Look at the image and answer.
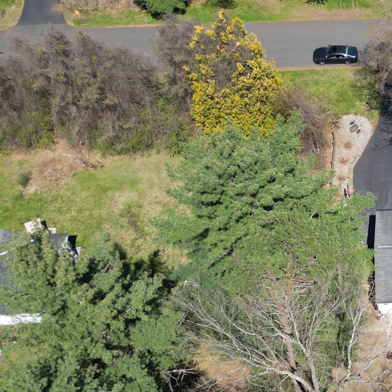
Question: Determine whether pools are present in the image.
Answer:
No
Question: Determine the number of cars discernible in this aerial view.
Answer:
1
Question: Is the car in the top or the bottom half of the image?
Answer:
top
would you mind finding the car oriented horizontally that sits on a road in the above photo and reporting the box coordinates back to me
[310,43,359,64]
